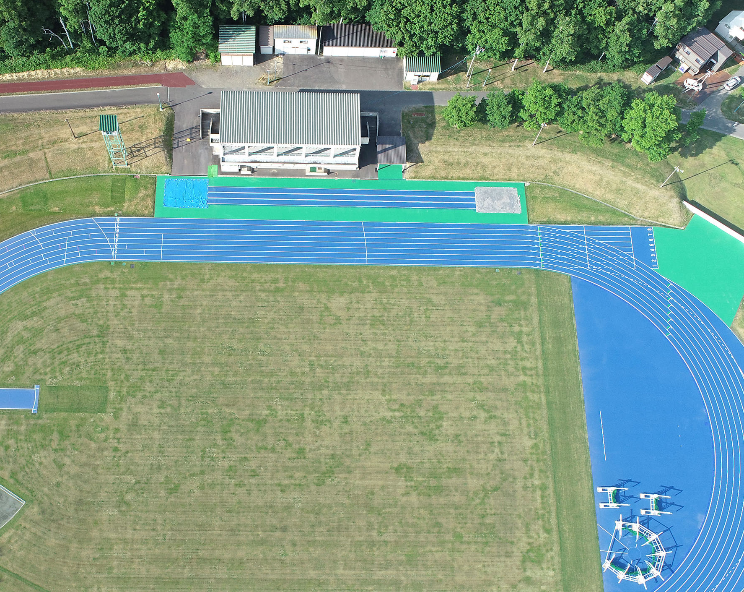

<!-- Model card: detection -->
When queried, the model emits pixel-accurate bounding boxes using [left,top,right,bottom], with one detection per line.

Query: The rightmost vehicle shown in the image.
[726,76,743,91]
